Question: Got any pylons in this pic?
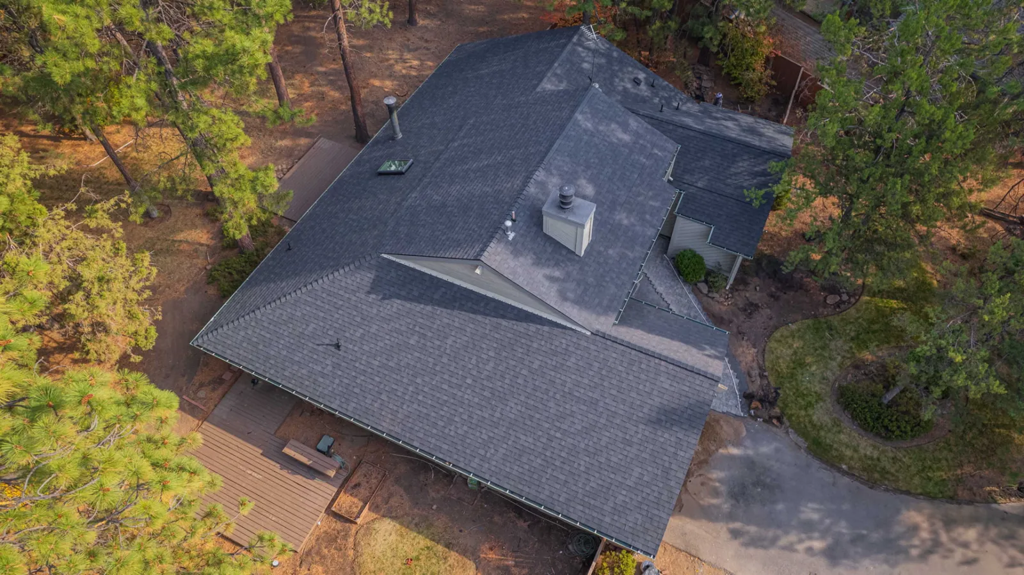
No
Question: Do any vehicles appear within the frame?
No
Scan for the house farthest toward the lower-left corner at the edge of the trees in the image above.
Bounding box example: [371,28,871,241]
[188,21,796,563]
